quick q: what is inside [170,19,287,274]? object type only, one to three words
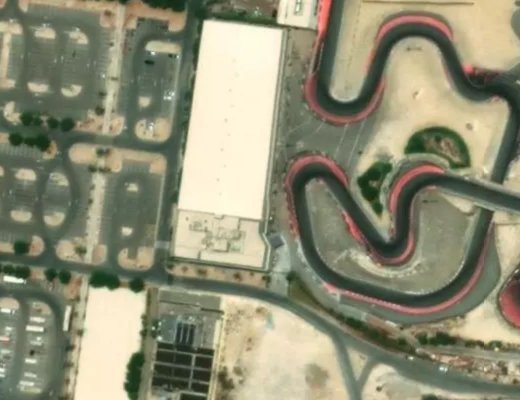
warehouse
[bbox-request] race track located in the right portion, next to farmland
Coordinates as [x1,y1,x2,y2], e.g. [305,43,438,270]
[287,0,520,327]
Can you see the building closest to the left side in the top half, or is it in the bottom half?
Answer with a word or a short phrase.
bottom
